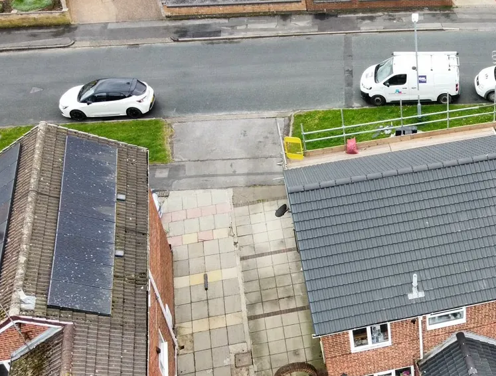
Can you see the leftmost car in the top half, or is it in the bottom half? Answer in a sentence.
Seen from above, the leftmost car lies in the top half of the view.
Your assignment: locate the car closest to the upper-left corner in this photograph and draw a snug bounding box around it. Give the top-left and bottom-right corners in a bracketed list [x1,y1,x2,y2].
[57,76,155,119]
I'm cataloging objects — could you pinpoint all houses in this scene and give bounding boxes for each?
[282,132,496,376]
[0,125,180,376]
